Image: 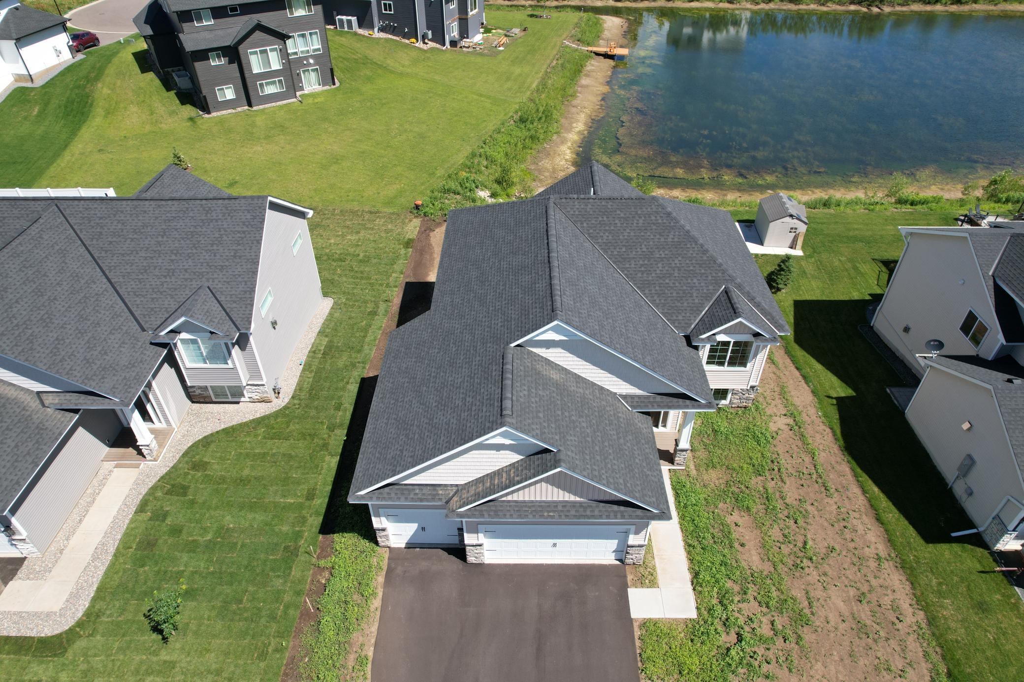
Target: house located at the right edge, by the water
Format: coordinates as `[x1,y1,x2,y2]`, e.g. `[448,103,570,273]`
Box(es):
[871,209,1024,562]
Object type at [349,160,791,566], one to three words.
house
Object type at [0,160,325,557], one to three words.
house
